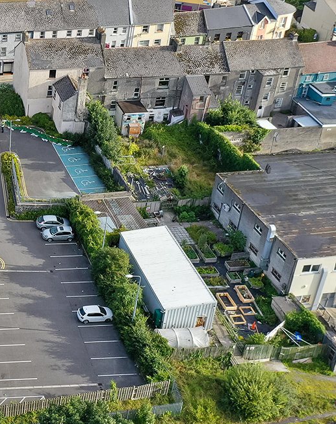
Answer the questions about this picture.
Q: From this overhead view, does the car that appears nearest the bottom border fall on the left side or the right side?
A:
left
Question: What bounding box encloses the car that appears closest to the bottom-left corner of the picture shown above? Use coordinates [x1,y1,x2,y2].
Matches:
[74,304,116,326]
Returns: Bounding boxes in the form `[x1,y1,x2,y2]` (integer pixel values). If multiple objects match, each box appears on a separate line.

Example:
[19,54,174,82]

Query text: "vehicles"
[32,214,73,231]
[39,225,76,243]
[74,304,116,326]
